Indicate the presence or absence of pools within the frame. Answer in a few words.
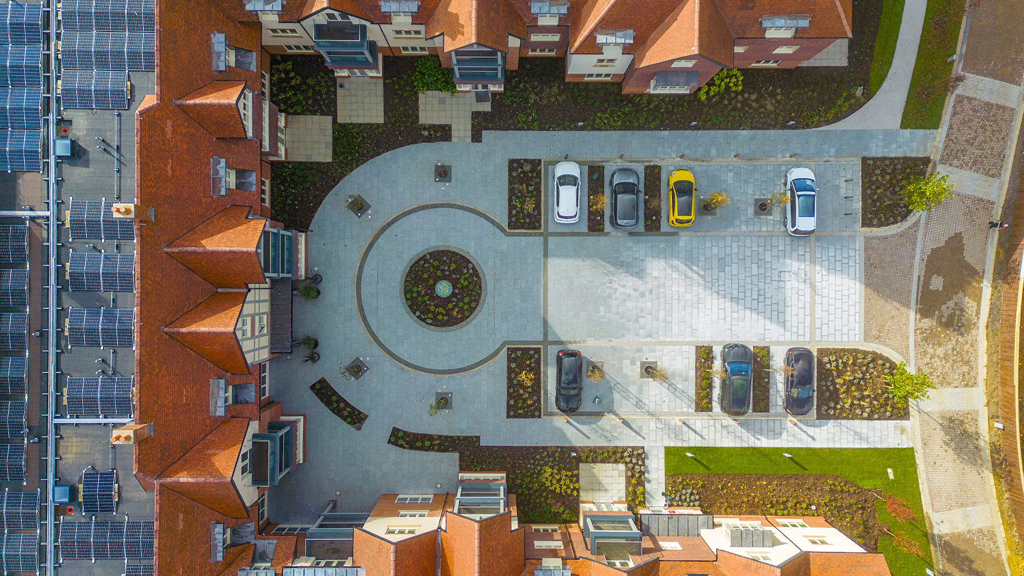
No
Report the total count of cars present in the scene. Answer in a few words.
7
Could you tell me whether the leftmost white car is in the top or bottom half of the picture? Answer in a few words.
top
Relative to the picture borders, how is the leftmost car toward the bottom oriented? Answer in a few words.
from top to bottom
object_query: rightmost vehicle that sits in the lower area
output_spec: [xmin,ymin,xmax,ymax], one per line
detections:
[780,347,819,415]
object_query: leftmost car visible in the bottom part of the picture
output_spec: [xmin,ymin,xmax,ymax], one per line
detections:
[553,349,585,411]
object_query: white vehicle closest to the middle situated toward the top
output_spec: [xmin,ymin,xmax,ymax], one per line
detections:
[551,162,584,223]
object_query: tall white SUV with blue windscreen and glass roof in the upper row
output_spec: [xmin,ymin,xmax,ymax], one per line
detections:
[780,167,820,236]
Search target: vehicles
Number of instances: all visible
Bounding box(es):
[716,343,757,415]
[780,167,820,236]
[780,347,819,415]
[608,169,642,230]
[553,349,585,411]
[551,162,584,223]
[666,170,699,227]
